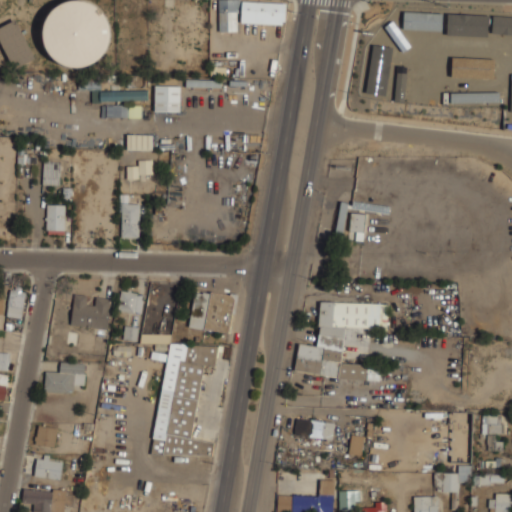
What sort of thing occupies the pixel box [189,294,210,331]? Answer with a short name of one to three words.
building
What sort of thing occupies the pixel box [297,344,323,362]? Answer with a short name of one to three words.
building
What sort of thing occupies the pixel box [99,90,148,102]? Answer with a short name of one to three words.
shed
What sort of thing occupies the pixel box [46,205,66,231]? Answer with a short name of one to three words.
house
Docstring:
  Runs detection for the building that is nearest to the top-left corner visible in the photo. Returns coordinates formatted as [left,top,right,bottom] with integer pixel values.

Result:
[0,21,34,68]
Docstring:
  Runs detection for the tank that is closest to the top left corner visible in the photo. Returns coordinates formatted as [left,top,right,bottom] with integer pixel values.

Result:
[42,0,111,68]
